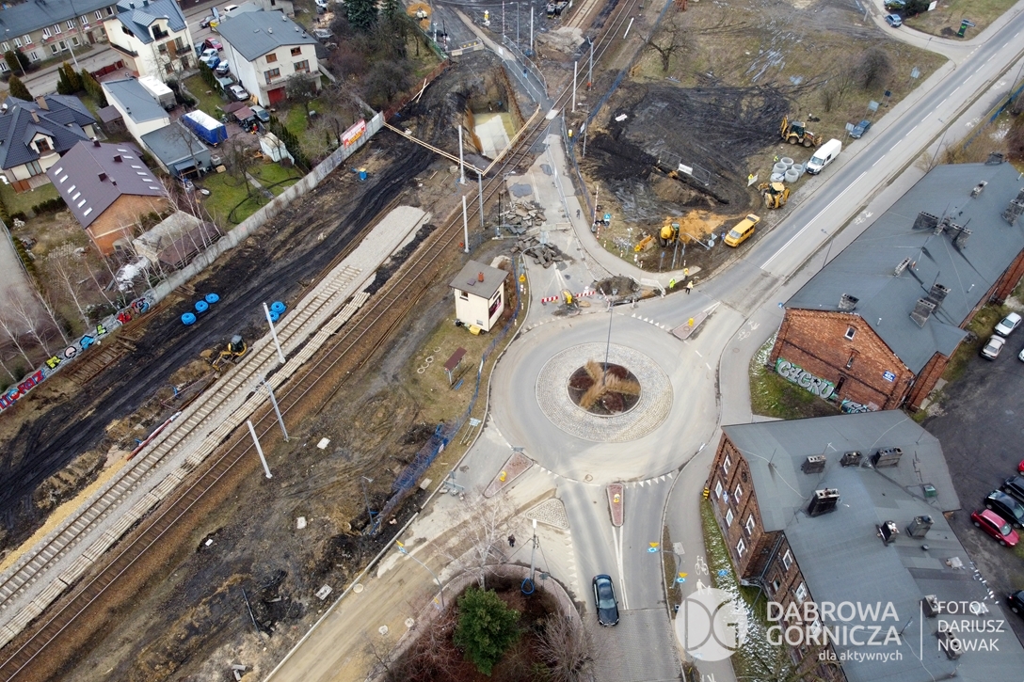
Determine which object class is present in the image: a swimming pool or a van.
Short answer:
van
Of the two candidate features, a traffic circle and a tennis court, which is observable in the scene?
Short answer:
traffic circle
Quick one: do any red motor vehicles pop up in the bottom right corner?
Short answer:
Yes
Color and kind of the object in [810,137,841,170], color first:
white van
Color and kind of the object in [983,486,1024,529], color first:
black car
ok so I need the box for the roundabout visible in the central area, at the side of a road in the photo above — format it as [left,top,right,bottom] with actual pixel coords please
[489,312,722,482]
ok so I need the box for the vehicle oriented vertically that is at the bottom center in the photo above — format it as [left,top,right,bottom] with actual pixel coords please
[593,572,621,626]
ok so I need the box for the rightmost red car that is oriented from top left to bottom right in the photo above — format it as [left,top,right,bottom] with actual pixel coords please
[973,507,1024,547]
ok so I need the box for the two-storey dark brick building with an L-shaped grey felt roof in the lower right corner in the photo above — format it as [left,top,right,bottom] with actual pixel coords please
[699,407,1024,682]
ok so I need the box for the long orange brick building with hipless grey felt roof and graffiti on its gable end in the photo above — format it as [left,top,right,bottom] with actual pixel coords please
[768,150,1024,413]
